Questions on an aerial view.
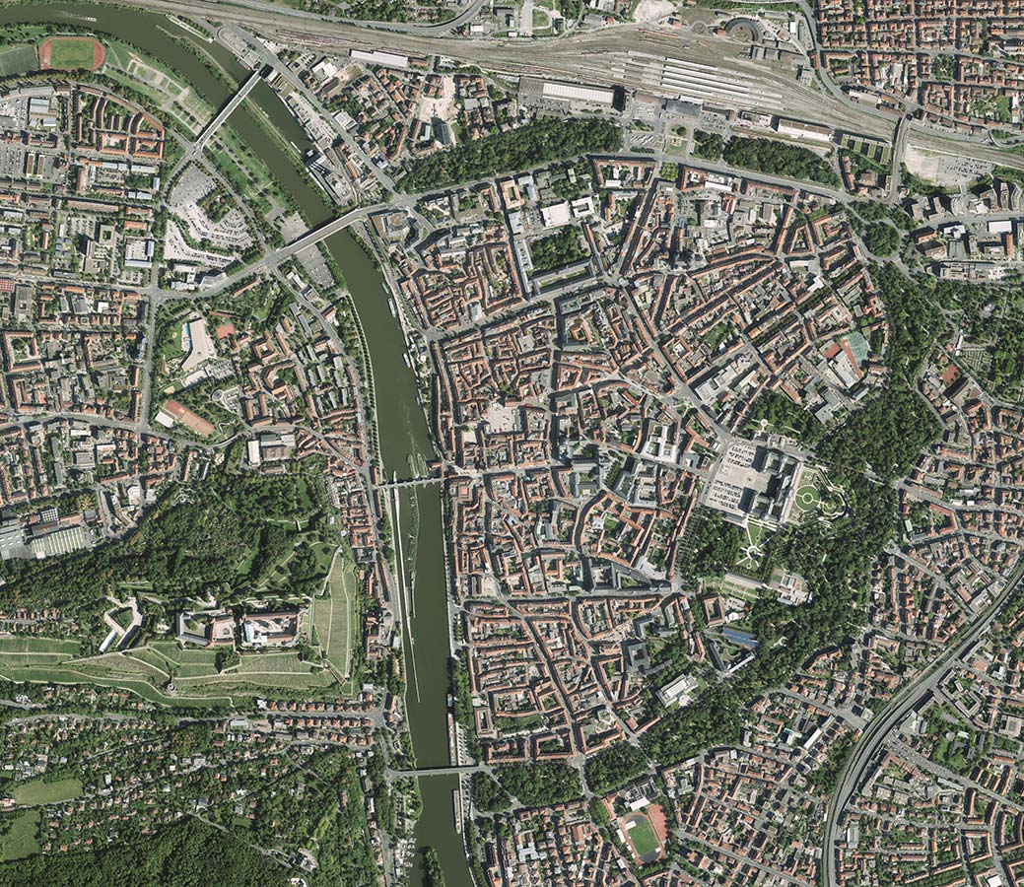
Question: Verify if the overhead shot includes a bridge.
Yes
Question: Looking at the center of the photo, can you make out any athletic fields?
No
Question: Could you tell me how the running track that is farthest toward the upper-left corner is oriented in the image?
from left to right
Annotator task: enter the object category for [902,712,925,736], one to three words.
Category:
building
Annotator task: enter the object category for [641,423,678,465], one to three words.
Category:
building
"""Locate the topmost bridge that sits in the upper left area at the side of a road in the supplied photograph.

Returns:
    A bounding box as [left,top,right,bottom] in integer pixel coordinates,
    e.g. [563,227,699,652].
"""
[192,70,263,151]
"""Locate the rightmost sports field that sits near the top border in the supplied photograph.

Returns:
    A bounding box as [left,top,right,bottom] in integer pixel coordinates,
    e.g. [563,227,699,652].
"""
[51,40,94,67]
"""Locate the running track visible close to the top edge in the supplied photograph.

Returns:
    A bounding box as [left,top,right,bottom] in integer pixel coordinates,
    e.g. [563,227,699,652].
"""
[39,37,106,71]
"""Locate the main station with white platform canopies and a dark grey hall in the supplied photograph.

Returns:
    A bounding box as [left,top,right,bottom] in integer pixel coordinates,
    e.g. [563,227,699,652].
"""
[611,51,784,116]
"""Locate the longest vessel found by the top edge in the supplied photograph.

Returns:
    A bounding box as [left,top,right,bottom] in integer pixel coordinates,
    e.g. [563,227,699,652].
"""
[167,14,199,36]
